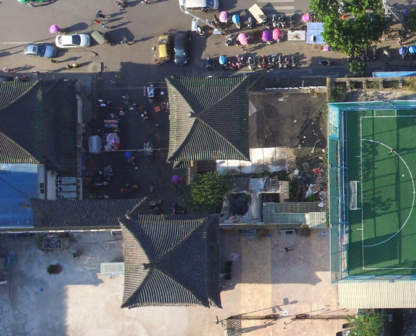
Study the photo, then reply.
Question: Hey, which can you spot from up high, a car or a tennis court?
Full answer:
The image shows a car.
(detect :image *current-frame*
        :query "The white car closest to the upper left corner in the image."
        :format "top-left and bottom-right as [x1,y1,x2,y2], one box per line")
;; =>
[55,32,93,49]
